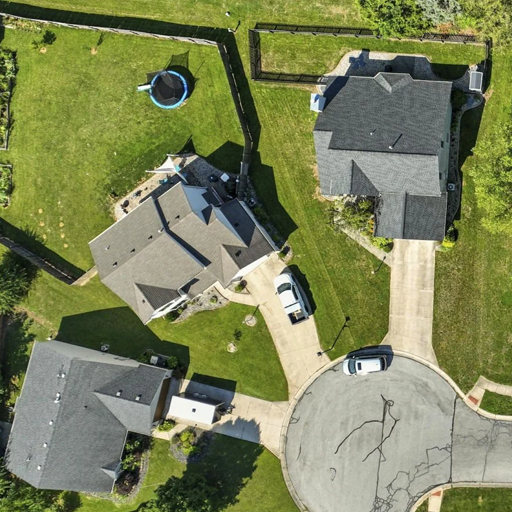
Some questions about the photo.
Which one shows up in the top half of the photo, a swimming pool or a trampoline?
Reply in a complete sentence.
The one visible in the top half of the photo is a trampoline.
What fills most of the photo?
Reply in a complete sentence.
The bulk of the photo consists of grass.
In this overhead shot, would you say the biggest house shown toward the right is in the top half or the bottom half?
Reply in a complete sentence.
The biggest house shown toward the right sits in the top half of the picture.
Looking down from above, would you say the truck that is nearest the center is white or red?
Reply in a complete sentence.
The truck that is nearest the center looks white in the image.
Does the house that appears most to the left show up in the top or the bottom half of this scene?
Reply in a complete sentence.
You can find the house that appears most to the left in the bottom half.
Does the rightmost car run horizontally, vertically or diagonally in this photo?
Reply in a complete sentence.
In this picture, the rightmost car lies horizontally.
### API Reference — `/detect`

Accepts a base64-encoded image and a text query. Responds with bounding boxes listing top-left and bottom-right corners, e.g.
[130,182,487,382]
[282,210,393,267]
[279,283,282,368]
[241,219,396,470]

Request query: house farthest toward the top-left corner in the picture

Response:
[88,180,281,326]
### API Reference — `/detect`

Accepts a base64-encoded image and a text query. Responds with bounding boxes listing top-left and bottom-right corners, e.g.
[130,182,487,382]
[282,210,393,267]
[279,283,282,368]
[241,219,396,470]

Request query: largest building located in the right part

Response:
[308,72,454,241]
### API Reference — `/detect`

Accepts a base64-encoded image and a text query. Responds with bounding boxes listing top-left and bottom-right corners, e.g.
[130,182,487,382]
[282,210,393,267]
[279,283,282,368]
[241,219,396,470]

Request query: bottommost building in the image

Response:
[1,339,177,493]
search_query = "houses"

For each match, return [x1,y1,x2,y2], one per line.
[88,180,281,326]
[1,339,177,493]
[308,72,454,241]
